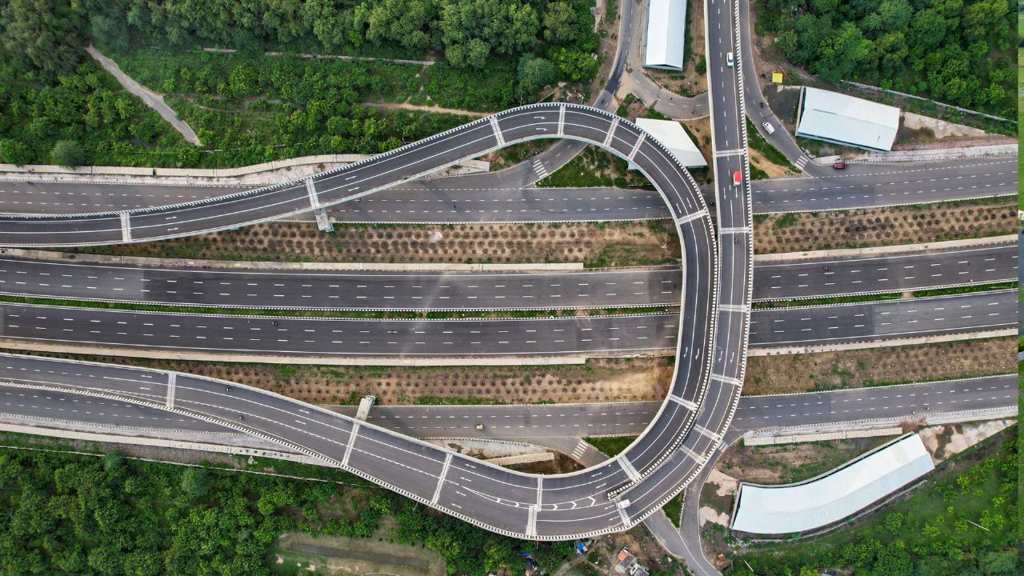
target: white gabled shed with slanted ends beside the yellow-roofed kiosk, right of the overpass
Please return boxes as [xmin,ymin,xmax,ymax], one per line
[792,87,900,154]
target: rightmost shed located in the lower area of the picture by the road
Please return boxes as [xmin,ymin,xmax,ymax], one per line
[726,430,934,534]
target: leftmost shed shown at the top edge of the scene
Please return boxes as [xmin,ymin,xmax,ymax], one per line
[642,0,686,74]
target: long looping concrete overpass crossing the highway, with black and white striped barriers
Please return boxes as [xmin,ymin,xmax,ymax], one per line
[0,0,754,542]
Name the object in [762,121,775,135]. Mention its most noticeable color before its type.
white vehicle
